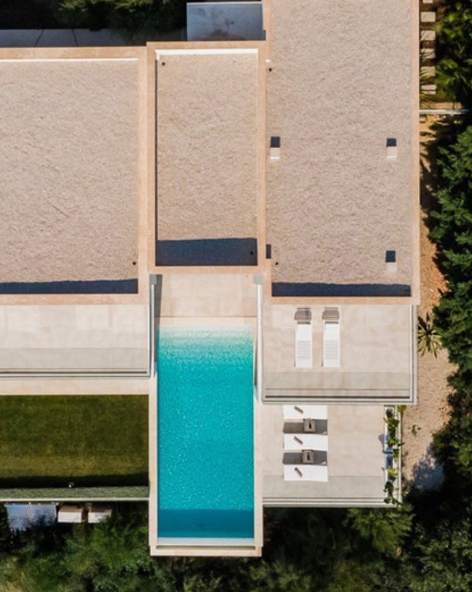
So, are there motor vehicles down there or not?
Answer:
No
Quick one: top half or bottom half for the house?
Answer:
top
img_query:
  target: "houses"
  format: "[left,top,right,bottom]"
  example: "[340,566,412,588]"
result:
[0,0,420,303]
